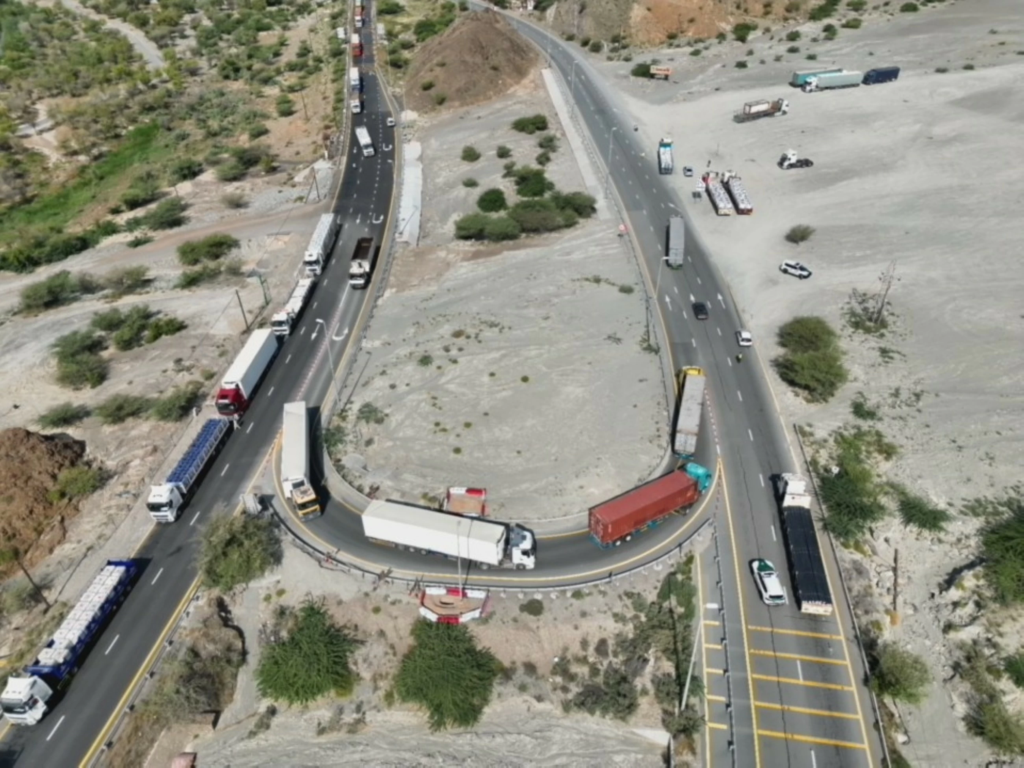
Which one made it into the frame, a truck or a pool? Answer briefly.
truck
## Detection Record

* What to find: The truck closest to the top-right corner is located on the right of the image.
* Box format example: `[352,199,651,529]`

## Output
[860,66,902,87]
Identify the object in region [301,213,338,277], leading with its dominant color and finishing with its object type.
white truck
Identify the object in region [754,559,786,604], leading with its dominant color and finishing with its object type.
white car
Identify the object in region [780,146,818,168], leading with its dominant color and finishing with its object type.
white truck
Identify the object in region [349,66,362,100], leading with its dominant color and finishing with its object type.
white vehicle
